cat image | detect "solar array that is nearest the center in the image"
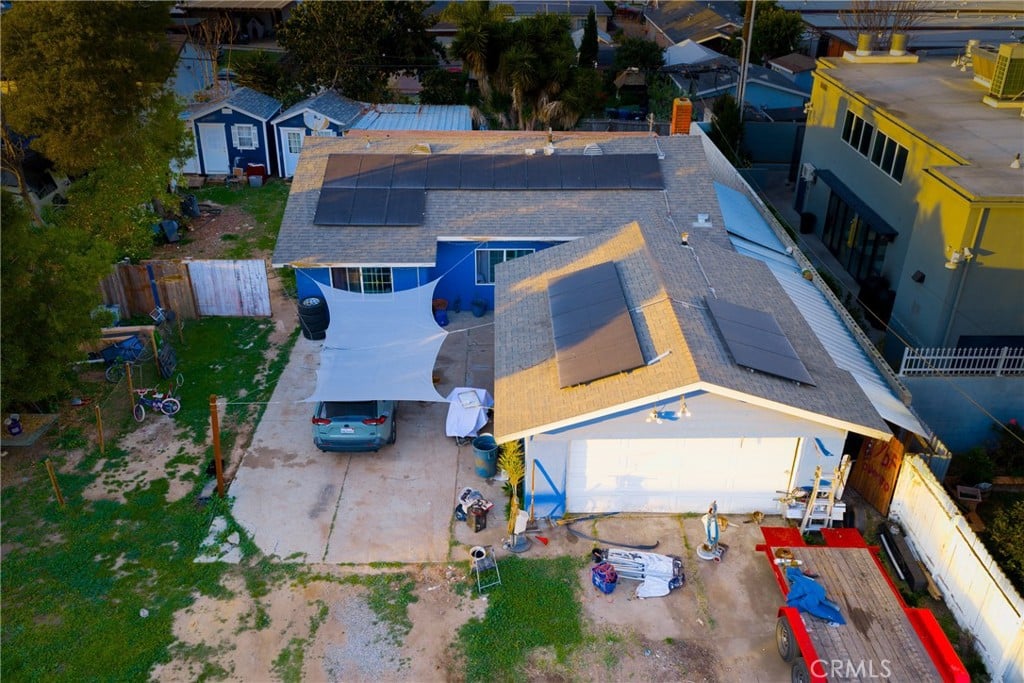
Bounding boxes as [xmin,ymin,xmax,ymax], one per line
[547,257,642,385]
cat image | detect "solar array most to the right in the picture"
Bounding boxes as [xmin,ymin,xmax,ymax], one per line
[700,284,819,382]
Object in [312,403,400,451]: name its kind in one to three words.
car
